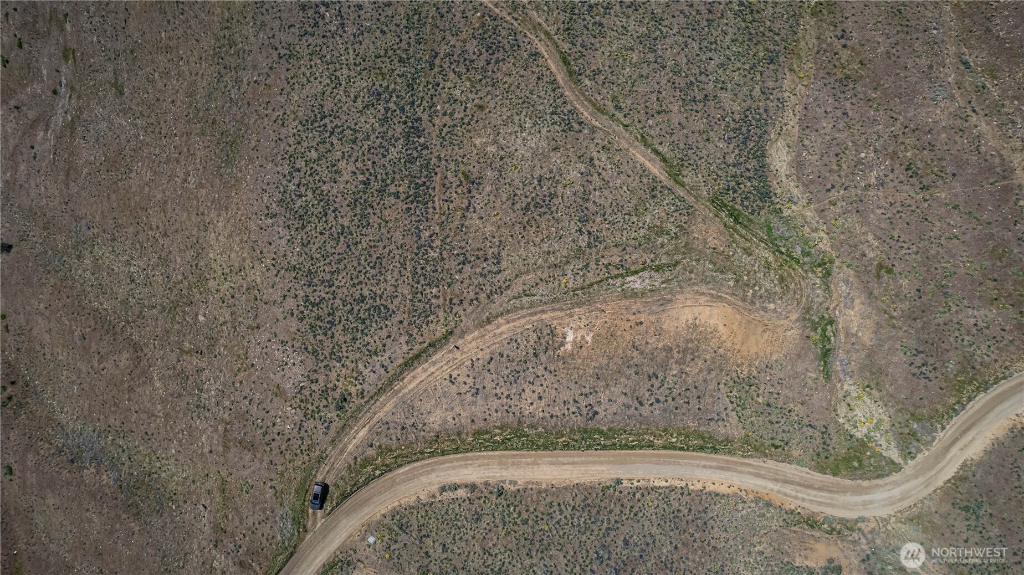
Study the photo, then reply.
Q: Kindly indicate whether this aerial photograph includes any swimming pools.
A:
No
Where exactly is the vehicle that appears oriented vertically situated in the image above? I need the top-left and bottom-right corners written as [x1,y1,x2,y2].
[307,482,323,511]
